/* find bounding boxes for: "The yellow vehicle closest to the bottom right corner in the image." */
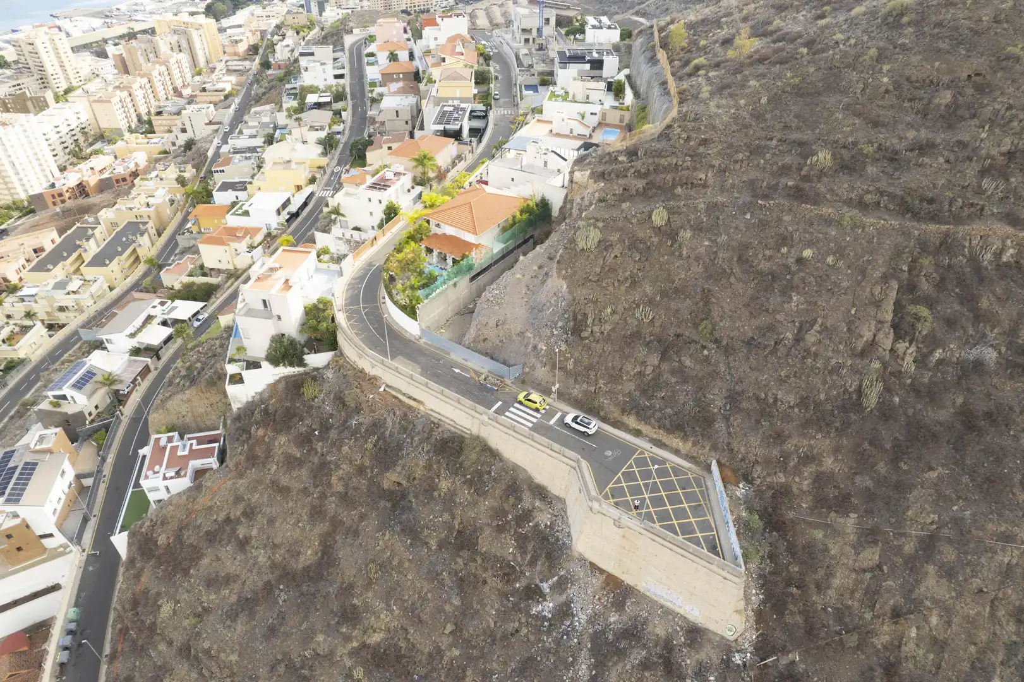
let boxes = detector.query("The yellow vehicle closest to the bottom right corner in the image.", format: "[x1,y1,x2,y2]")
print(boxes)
[519,394,548,413]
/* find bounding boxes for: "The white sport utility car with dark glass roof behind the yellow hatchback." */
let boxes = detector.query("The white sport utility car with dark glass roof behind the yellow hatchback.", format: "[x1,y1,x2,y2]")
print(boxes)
[564,416,598,438]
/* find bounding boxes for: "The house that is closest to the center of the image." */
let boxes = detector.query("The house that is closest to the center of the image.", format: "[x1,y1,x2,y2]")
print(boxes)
[420,182,531,264]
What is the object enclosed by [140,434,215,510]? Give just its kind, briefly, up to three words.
house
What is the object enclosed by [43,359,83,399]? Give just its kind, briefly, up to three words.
house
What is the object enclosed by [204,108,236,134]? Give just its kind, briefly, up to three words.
building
